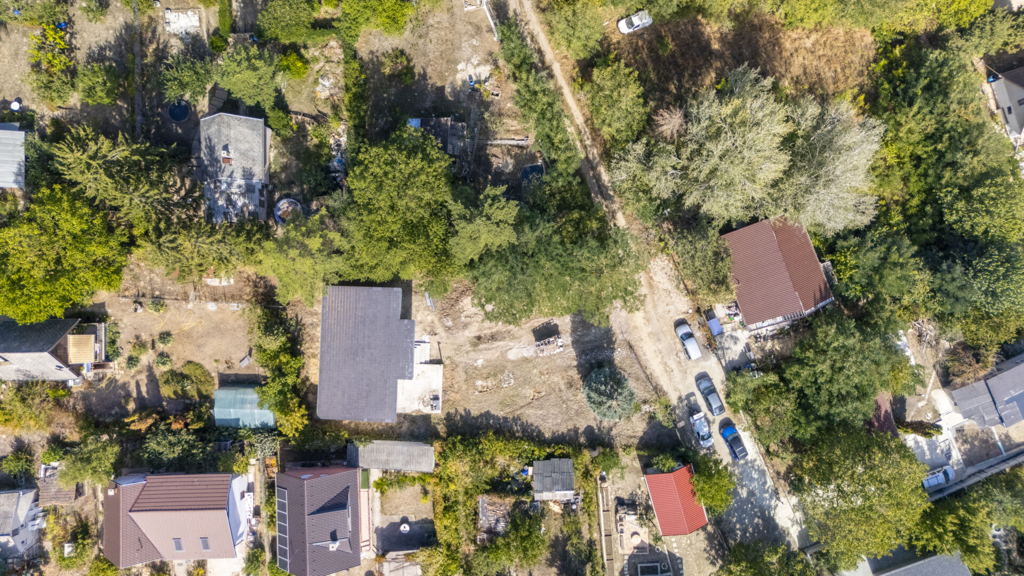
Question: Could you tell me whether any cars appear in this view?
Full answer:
Yes, I can see a car in this picture.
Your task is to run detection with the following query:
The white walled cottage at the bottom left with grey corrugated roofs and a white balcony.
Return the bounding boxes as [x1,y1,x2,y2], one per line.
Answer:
[0,487,47,558]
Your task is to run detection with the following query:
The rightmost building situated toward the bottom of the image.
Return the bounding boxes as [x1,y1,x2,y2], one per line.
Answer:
[938,358,1024,430]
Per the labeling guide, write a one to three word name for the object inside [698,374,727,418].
car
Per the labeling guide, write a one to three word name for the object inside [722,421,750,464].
car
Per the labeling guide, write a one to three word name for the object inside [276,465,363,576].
house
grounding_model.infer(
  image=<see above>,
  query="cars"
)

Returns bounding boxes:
[686,410,715,452]
[916,465,956,491]
[698,374,727,418]
[722,421,750,464]
[676,322,703,363]
[616,8,656,36]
